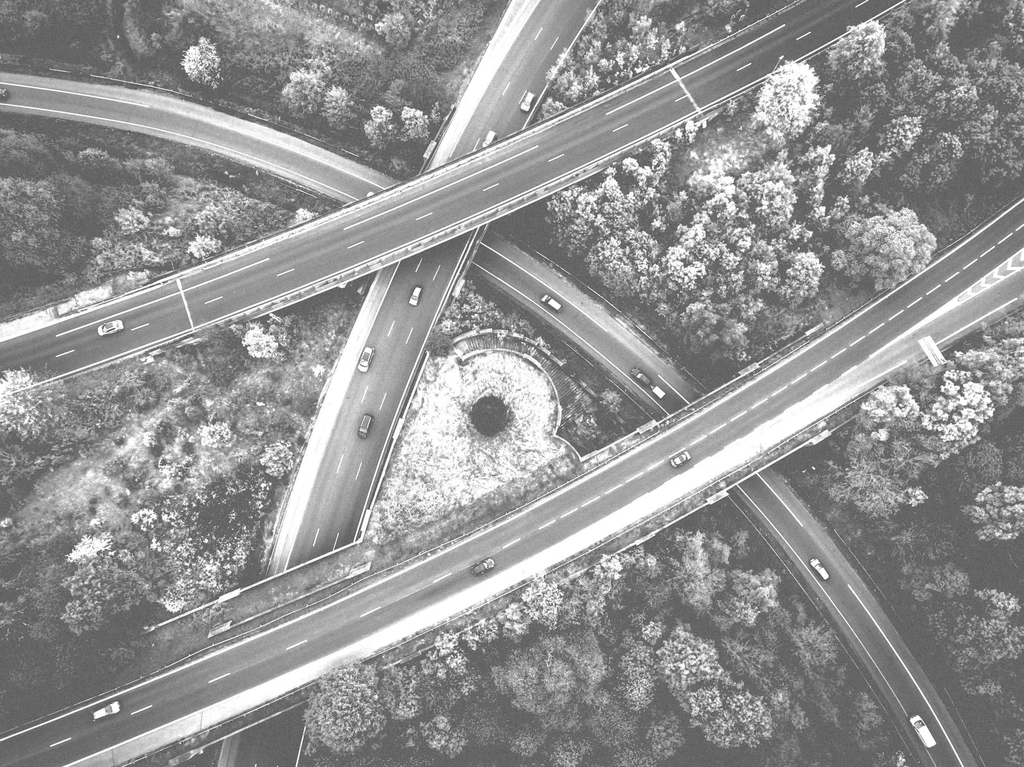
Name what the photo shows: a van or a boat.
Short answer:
van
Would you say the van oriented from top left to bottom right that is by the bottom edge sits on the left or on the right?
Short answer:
right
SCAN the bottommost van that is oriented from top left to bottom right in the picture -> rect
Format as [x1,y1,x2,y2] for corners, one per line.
[907,714,940,752]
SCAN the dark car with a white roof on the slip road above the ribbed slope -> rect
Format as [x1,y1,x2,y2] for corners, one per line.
[540,294,564,313]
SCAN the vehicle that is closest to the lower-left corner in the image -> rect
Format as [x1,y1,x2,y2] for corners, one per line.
[90,699,123,724]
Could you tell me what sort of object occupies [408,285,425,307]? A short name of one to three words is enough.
car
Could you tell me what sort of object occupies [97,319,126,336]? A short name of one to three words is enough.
car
